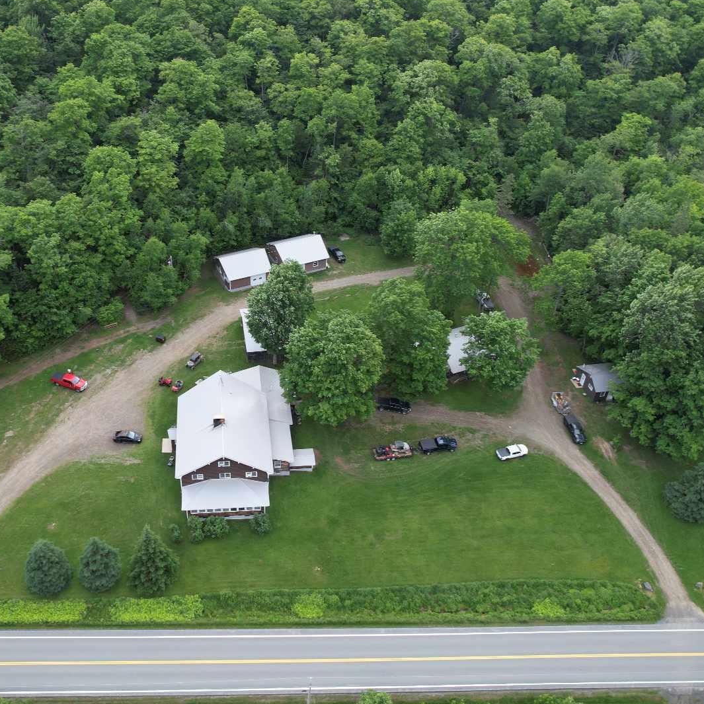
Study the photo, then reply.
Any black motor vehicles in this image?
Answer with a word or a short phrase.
Yes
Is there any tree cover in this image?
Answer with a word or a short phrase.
Yes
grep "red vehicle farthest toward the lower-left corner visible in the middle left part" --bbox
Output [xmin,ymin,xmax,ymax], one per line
[52,372,87,391]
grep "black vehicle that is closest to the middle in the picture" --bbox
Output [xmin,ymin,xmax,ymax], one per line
[376,398,411,414]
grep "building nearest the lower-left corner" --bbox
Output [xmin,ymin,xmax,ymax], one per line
[162,365,317,520]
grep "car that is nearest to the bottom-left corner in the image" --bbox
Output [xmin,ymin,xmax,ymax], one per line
[112,430,142,443]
